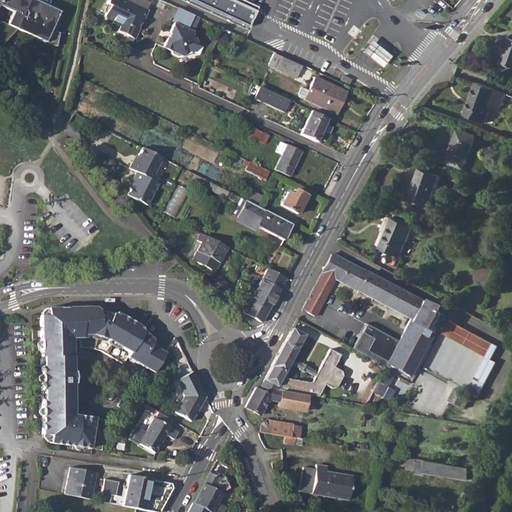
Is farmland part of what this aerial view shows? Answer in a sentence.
No, farmland can't be seen anywhere here.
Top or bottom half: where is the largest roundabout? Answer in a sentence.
Seen from above, the largest roundabout lies in the bottom half of the view.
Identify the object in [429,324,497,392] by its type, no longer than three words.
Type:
building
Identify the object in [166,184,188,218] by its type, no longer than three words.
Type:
greenhouse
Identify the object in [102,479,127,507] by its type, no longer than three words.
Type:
shed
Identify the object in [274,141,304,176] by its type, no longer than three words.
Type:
house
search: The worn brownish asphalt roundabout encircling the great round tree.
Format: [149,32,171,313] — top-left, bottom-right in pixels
[197,328,266,394]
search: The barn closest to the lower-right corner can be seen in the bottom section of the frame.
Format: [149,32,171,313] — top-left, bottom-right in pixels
[403,459,467,481]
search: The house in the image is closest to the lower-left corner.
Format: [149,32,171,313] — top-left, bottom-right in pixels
[63,466,99,500]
